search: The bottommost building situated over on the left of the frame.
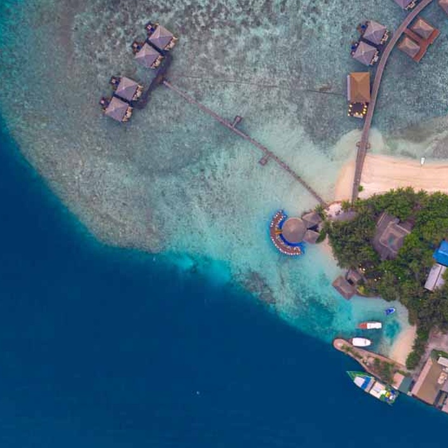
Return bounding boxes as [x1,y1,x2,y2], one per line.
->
[102,94,135,122]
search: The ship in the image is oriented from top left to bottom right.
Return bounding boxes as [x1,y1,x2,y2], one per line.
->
[349,370,398,409]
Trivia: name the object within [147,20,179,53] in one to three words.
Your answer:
house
